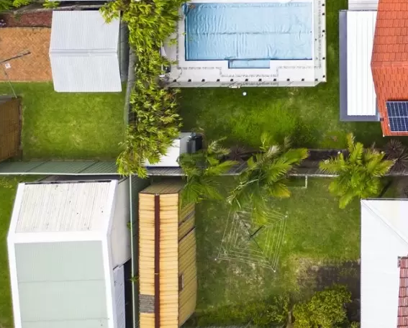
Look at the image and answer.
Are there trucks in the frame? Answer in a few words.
No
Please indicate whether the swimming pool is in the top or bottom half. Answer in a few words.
top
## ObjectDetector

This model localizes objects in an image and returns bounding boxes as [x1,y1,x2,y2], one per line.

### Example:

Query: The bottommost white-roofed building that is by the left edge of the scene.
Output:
[4,168,142,328]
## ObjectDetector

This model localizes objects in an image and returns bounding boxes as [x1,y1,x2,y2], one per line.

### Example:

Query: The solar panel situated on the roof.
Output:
[388,103,408,135]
